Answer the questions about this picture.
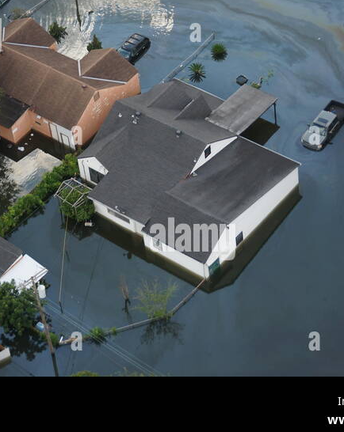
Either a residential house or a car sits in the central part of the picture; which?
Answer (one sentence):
There is a residential house in the central part of the picture.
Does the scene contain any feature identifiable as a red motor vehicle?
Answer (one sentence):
No, the picture doesn't show any red motor vehicle.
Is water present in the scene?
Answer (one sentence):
Yes, some water is visible.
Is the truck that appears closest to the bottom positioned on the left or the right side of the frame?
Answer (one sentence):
You can find the truck that appears closest to the bottom on the right side of the picture.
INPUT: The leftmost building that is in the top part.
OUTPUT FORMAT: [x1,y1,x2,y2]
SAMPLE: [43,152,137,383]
[0,15,144,151]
